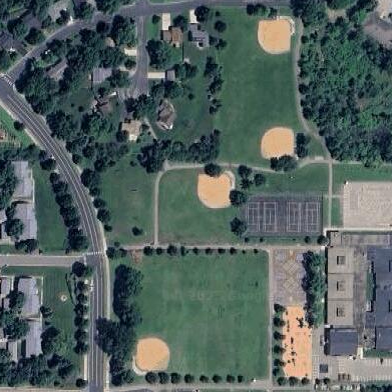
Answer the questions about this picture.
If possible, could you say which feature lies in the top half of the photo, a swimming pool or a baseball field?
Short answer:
baseball field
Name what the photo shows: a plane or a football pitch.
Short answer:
football pitch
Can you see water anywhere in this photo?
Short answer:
No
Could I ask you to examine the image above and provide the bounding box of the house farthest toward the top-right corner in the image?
[189,25,210,50]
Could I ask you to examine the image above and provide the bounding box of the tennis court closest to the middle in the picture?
[242,190,324,237]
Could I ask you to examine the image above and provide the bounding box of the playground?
[283,307,313,377]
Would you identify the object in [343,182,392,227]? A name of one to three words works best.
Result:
sports court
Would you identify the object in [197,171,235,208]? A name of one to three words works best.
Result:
baseball field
